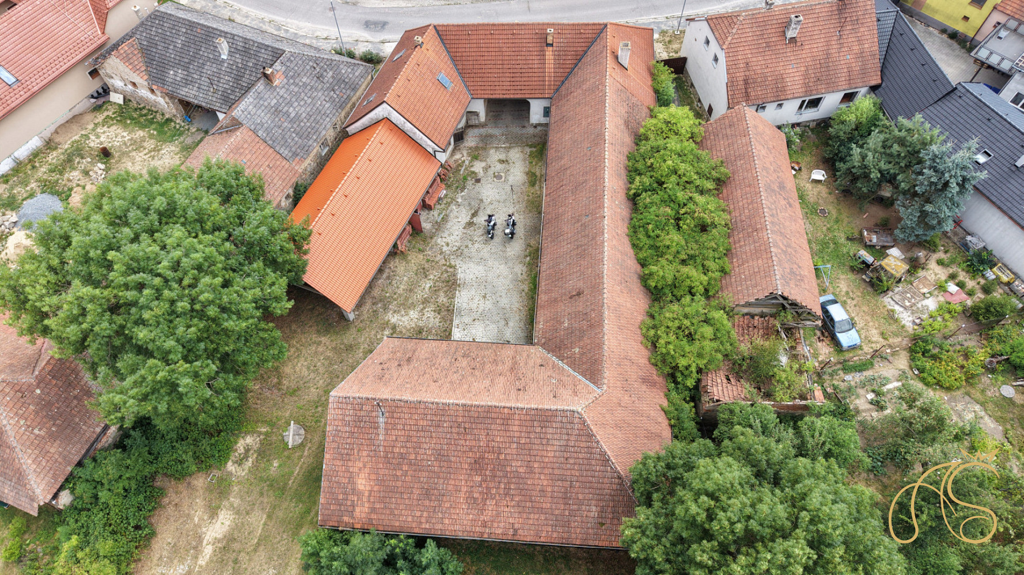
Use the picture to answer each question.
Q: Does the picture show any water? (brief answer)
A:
No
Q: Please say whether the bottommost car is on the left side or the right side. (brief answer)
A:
right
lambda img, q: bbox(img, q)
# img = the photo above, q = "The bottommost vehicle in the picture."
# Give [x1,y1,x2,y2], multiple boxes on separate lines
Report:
[818,292,867,356]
